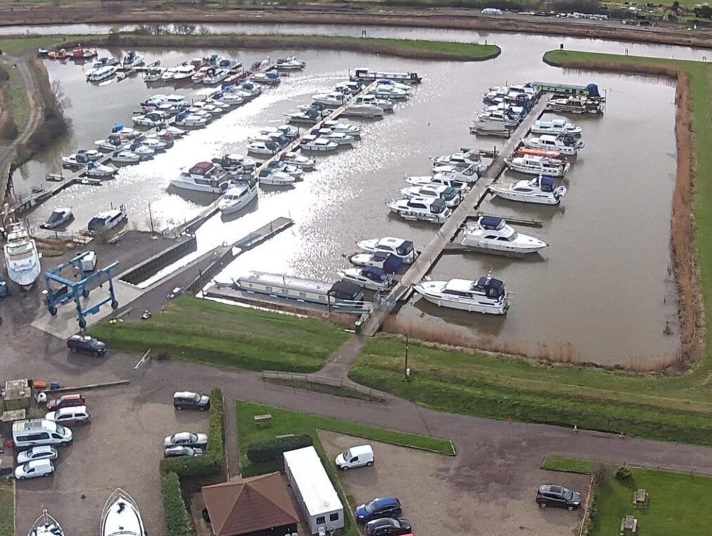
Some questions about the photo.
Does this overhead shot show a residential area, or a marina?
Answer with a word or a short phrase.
marina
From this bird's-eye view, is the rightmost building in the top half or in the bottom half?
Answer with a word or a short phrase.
bottom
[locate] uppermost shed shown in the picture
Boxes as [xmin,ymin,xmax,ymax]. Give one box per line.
[1,376,29,408]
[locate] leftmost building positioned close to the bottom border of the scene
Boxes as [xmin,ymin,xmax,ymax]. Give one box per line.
[199,471,300,536]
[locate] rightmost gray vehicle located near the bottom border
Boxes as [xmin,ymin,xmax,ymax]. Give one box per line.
[535,485,584,514]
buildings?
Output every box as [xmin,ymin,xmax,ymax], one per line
[1,376,29,408]
[199,471,300,536]
[282,445,344,536]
